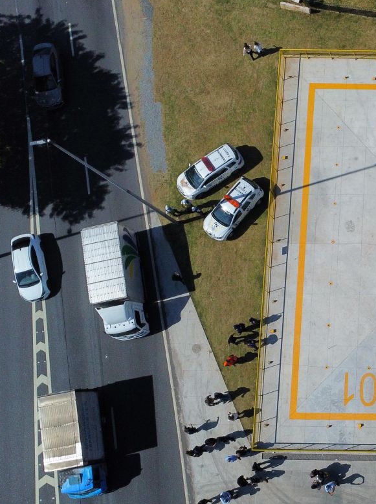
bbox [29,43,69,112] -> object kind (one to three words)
car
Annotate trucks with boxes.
[36,388,114,499]
[81,222,154,345]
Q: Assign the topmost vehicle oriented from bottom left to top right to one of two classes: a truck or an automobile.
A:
automobile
